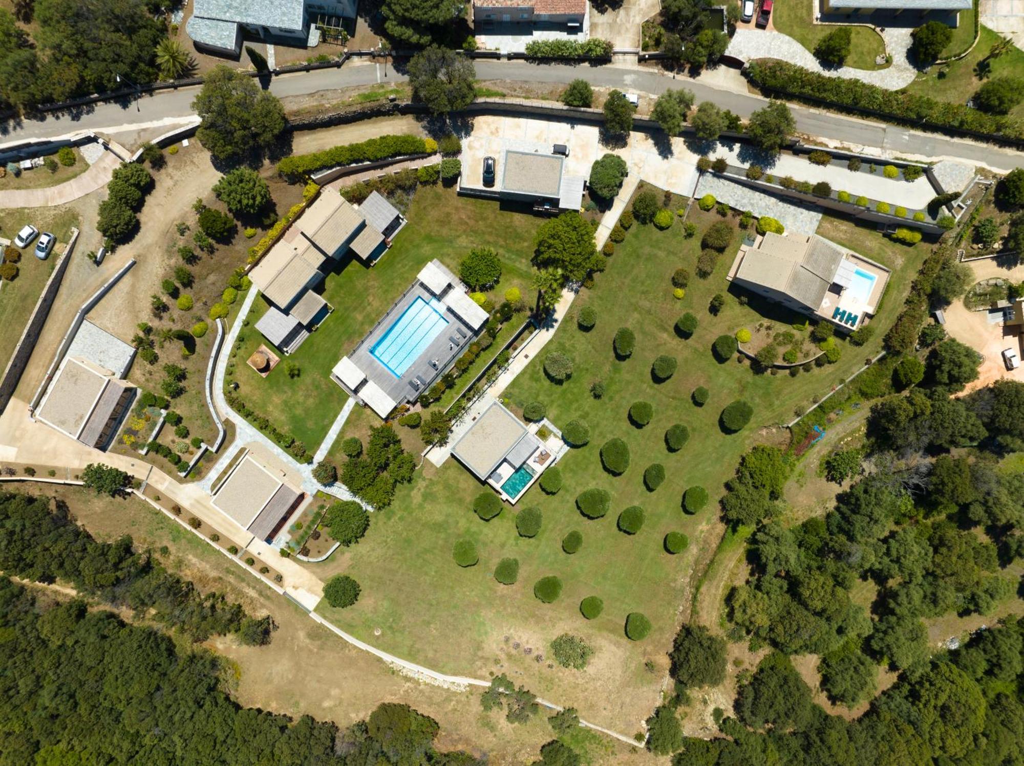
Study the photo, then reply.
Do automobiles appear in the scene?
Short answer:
Yes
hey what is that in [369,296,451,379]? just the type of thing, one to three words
swimming pool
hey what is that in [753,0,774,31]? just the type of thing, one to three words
truck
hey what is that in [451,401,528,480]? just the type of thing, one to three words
house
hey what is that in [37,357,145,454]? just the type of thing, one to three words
building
